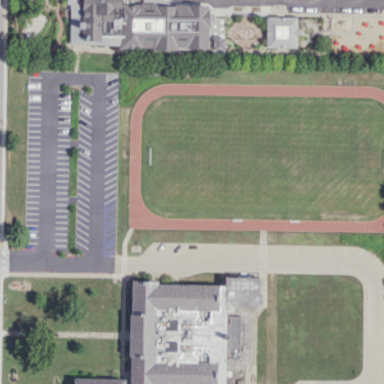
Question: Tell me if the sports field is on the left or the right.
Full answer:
The sports field is on the right side of the image.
